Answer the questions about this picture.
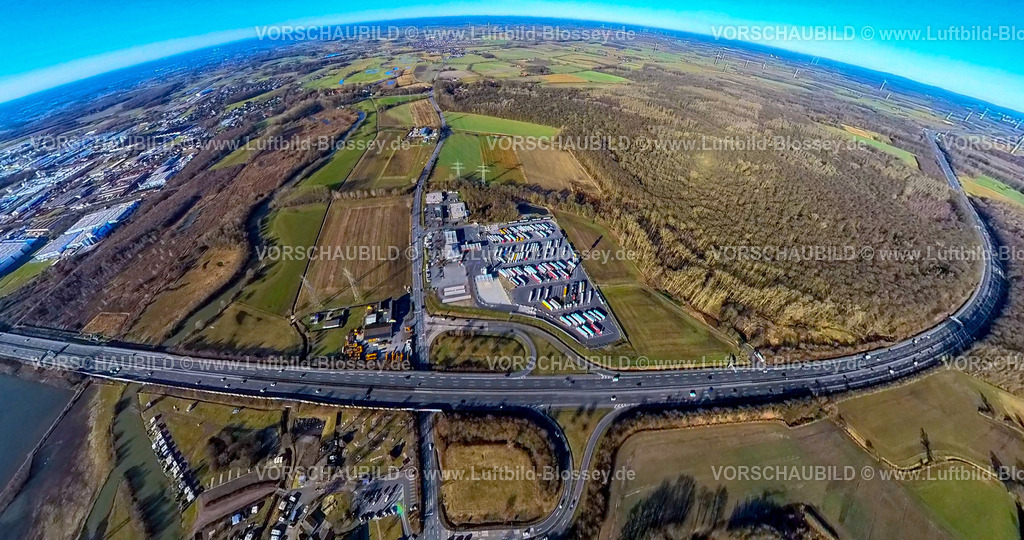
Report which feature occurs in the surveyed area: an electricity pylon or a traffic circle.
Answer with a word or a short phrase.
electricity pylon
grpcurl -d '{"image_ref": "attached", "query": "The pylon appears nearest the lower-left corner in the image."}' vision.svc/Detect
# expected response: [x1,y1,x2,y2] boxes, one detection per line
[301,273,322,307]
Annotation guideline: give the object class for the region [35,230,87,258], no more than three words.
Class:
building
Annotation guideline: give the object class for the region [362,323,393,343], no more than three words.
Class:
barn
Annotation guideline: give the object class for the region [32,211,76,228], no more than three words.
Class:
building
